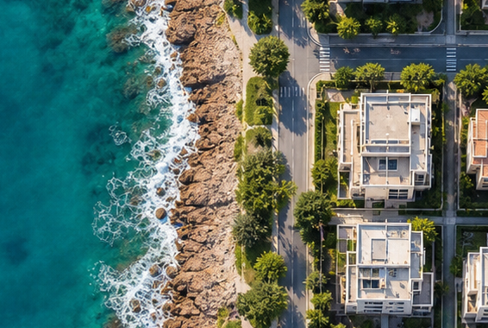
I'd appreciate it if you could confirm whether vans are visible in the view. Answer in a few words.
No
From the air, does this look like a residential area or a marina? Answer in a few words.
residential area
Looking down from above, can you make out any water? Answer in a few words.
Yes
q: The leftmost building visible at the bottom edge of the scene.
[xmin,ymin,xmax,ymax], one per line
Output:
[336,217,433,312]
